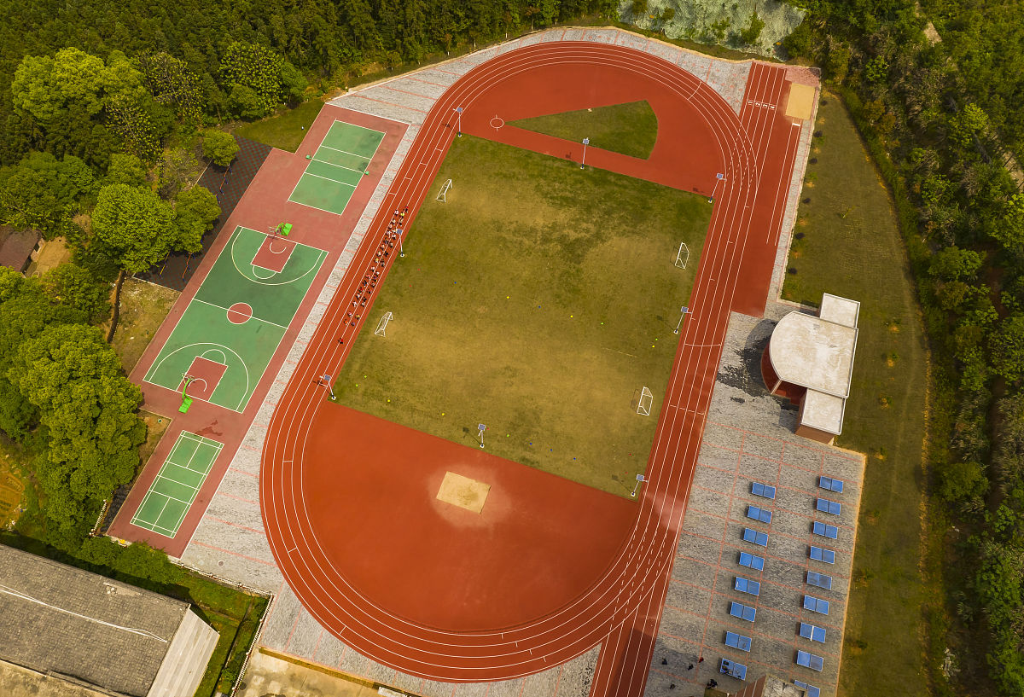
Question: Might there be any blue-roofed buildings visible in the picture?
No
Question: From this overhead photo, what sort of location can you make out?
sports ground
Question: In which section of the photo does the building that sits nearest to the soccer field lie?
right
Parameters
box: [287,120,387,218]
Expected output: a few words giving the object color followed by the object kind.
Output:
green sports court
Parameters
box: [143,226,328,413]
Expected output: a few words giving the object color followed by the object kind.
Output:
green basketball court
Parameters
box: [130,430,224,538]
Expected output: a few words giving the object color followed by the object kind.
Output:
green sports court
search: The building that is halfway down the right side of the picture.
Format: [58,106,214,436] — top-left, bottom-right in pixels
[760,292,861,445]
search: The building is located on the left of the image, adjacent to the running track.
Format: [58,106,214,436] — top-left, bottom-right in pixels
[0,536,221,697]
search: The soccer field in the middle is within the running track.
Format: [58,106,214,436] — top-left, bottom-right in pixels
[333,136,714,500]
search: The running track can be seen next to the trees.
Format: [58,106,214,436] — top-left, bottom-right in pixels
[259,40,805,697]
